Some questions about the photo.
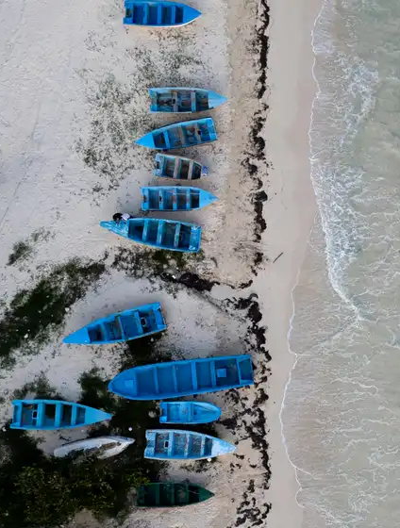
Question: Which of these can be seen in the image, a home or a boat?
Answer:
boat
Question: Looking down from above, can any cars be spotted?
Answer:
No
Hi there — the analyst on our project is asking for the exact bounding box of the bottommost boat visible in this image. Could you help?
[137,482,215,508]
